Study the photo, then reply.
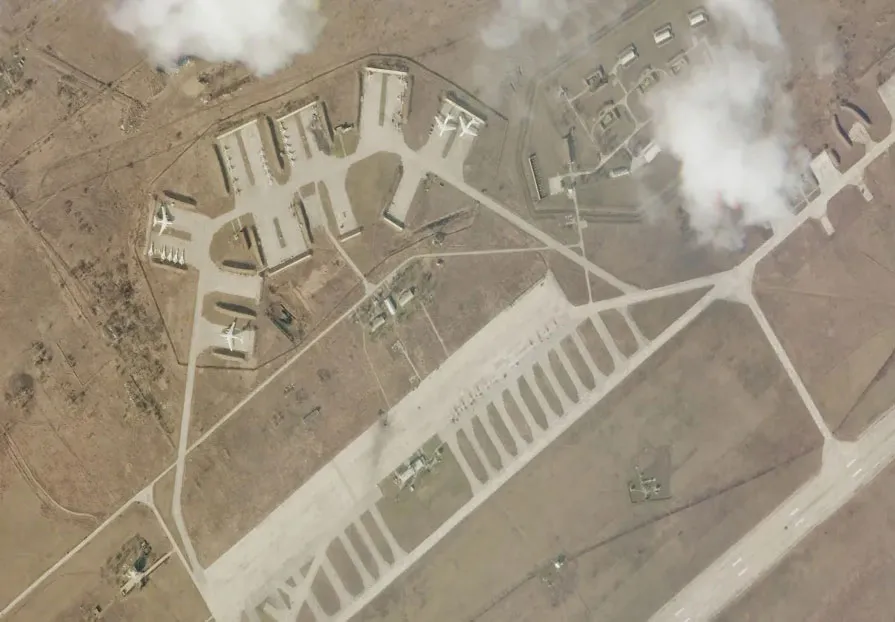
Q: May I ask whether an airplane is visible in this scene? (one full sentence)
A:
Yes, an airplane is visible in the scene.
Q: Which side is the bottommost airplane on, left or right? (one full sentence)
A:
It is on the left.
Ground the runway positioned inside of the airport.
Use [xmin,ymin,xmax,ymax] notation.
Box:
[646,405,895,622]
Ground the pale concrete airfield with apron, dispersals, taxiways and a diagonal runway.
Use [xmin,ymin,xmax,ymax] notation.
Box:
[151,69,895,622]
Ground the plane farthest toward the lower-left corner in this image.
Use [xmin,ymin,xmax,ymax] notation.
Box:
[219,324,243,353]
